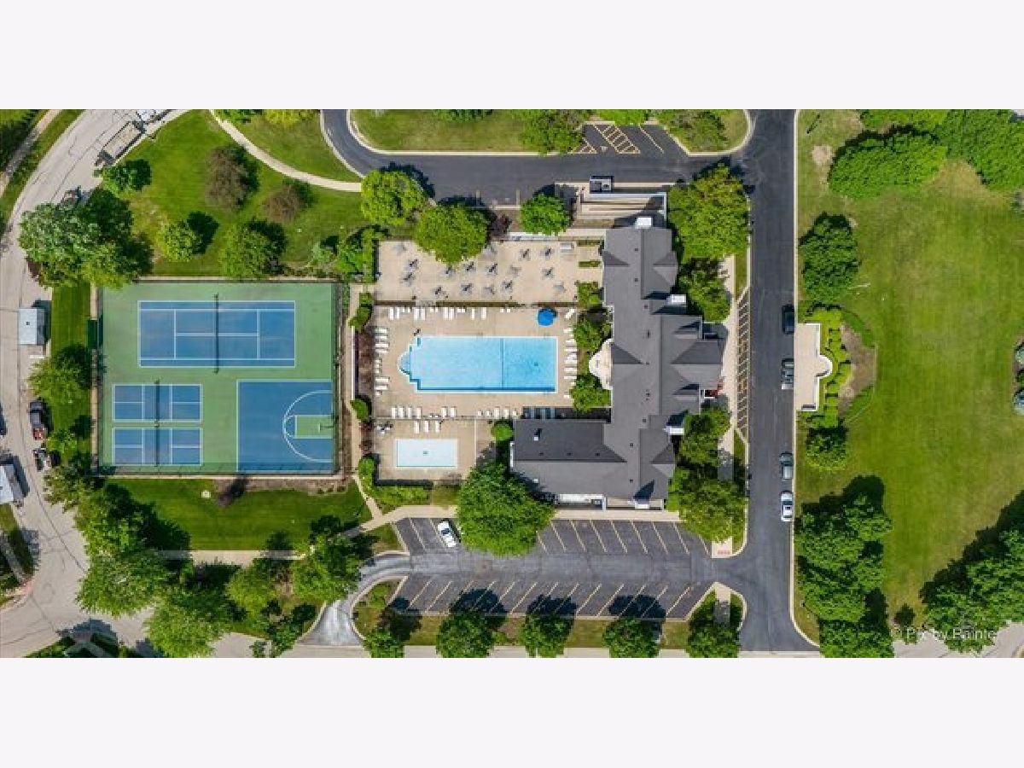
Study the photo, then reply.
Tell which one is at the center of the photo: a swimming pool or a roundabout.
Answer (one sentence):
It is a swimming pool that can be seen at the center of the photo.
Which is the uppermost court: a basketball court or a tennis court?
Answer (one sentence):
The uppermost court can be classified as a tennis court.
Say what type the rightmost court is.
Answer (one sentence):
The rightmost court in the image is a basketball court.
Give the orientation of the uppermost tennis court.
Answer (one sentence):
In this picture, the uppermost tennis court is oriented from left to right.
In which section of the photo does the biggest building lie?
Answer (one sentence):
The biggest building sits in the center section of the image.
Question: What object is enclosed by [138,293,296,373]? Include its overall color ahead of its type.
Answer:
blue tennis court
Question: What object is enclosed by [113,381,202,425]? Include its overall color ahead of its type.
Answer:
blue sports court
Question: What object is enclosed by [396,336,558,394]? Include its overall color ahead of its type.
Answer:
blue swimming pool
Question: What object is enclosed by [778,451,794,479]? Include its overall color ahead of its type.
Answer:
gray car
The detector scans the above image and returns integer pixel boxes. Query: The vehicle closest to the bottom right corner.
[779,491,794,522]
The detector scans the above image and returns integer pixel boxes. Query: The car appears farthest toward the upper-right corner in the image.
[780,306,796,334]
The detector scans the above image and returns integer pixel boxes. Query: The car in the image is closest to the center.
[437,519,459,550]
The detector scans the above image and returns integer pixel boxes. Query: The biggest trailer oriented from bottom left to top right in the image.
[100,118,144,163]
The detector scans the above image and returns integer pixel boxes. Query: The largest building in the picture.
[513,217,725,509]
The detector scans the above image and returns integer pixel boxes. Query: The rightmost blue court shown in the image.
[237,381,332,472]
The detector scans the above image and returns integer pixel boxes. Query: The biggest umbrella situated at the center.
[537,308,556,326]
